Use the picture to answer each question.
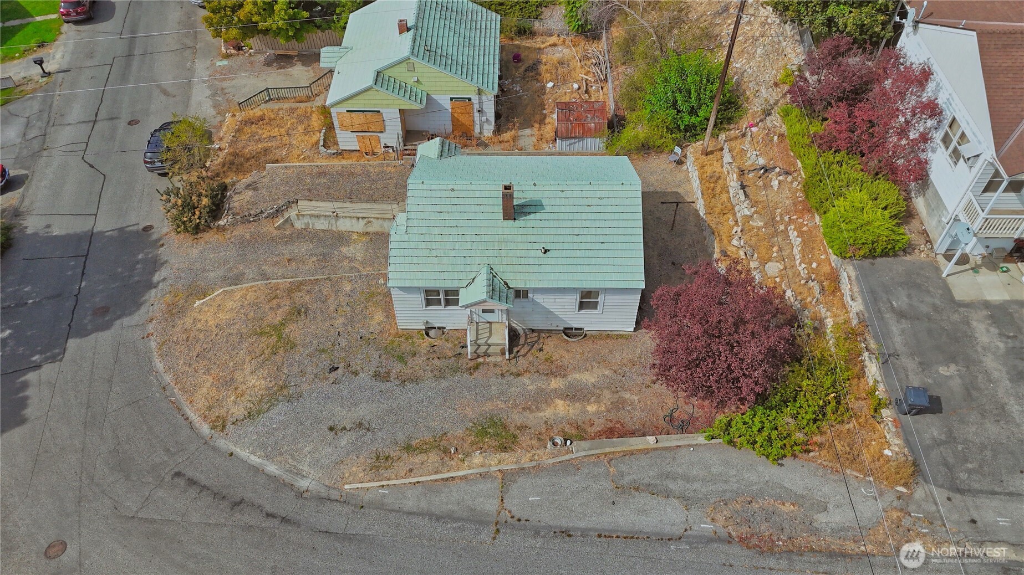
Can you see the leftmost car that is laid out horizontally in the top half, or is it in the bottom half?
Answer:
top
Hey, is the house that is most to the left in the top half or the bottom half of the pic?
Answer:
top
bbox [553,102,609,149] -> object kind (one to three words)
shed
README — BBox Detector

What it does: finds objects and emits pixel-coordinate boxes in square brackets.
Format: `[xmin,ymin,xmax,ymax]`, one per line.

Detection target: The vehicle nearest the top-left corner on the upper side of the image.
[56,0,105,22]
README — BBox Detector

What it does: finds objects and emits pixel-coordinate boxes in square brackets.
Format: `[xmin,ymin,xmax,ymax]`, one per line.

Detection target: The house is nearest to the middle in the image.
[386,137,647,362]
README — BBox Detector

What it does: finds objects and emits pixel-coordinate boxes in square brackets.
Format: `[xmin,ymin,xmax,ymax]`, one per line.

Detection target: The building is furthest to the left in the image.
[318,0,499,154]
